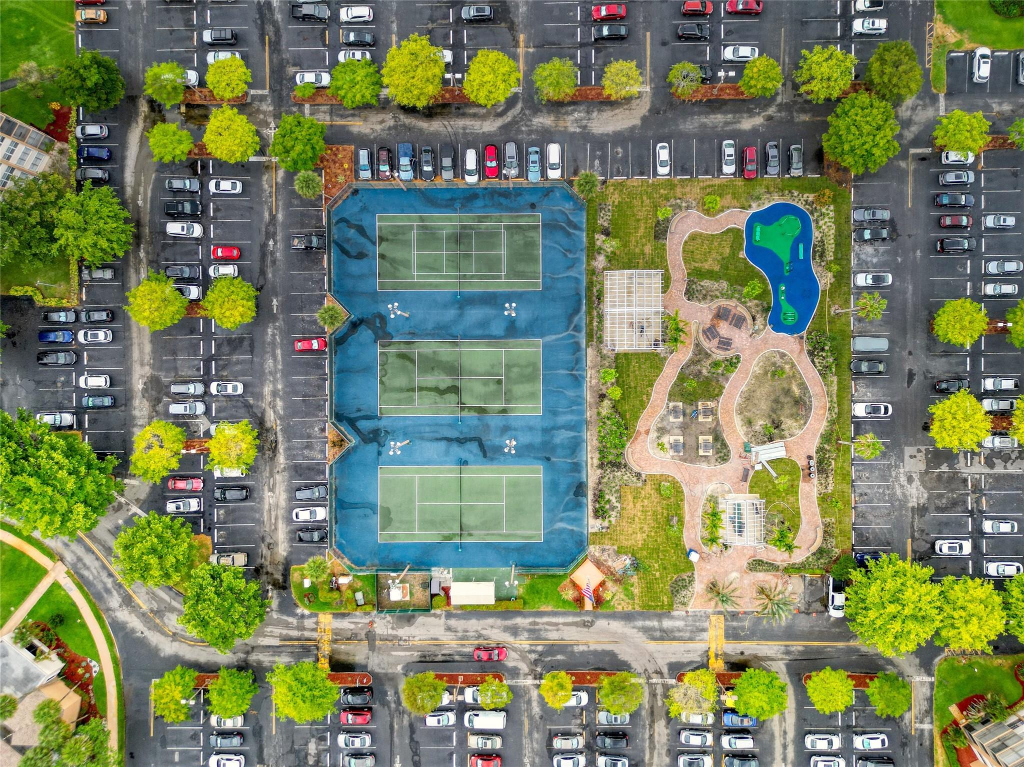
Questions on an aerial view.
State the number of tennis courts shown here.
3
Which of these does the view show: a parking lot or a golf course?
parking lot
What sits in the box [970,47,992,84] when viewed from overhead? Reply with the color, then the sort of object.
white car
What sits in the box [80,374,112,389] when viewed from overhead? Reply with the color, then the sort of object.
white car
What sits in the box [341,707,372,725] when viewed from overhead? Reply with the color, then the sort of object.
red car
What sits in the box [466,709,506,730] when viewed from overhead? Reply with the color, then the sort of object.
white vehicle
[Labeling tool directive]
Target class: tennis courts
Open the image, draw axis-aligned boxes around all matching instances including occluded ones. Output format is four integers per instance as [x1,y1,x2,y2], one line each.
[378,334,542,424]
[377,202,542,299]
[379,458,543,553]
